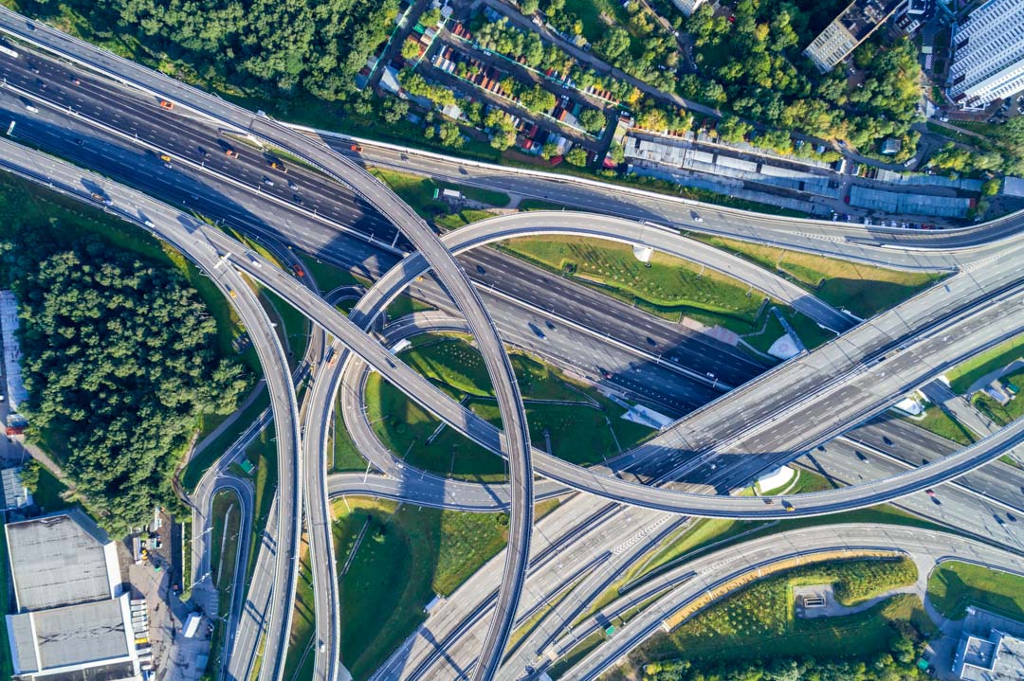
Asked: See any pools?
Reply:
No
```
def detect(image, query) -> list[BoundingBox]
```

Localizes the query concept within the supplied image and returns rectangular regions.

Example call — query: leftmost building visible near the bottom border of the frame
[0,511,143,681]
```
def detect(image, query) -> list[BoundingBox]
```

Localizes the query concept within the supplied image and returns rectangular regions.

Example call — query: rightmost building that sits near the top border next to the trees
[942,0,1024,109]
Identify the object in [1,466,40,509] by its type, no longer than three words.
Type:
building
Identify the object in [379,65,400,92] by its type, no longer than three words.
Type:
shed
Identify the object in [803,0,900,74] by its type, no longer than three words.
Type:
building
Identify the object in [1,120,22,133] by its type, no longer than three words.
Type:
vehicle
